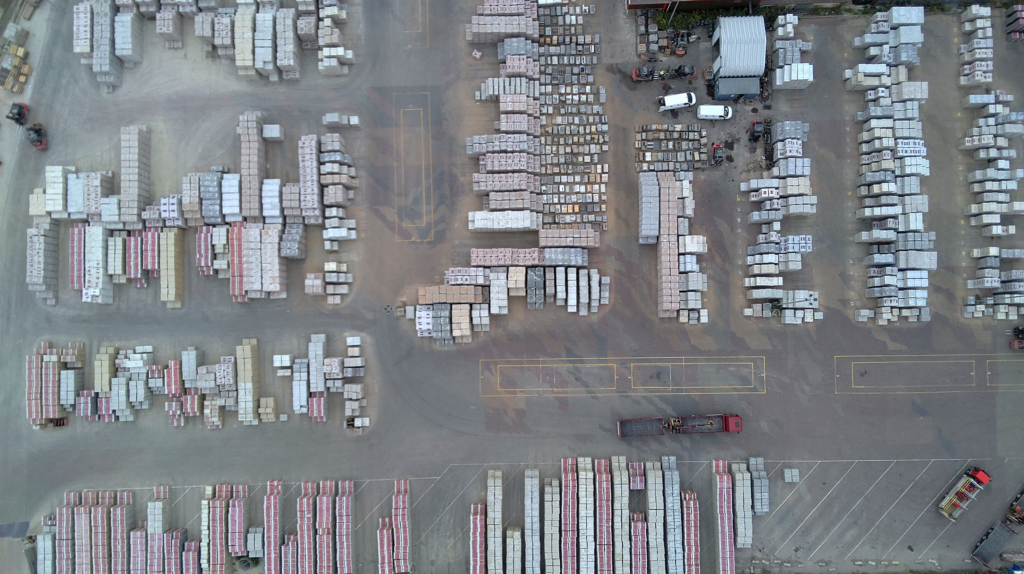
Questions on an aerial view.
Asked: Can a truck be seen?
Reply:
Yes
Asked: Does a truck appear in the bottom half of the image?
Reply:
Yes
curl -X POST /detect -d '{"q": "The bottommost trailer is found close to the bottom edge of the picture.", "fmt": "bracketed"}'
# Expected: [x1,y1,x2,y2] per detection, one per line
[972,521,1021,568]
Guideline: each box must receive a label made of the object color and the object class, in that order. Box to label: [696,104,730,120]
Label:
white vehicle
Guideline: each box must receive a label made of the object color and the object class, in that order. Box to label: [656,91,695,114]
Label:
white vehicle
